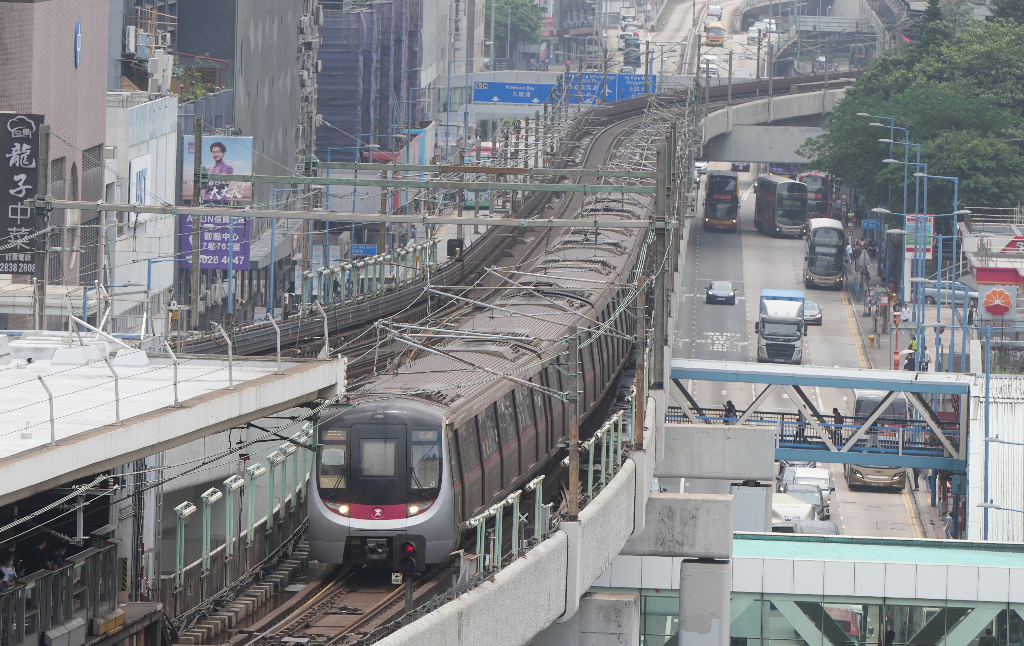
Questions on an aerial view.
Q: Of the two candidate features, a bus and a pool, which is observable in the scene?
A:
bus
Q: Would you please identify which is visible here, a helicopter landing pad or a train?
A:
train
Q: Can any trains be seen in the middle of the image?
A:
Yes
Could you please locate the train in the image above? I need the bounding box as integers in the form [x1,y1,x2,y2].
[307,193,650,569]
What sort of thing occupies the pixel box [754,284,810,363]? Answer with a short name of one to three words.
truck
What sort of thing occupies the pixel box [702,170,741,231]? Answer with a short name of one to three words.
bus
